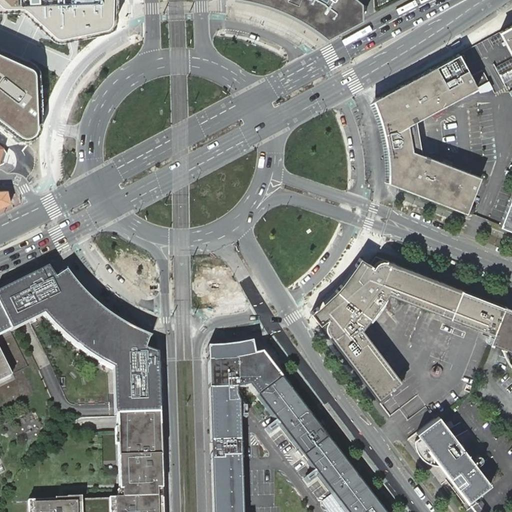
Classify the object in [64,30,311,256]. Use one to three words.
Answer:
roundabout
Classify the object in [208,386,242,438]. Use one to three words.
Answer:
building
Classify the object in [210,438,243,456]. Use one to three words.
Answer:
building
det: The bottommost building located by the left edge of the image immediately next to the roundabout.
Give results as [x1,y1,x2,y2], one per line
[0,264,162,412]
